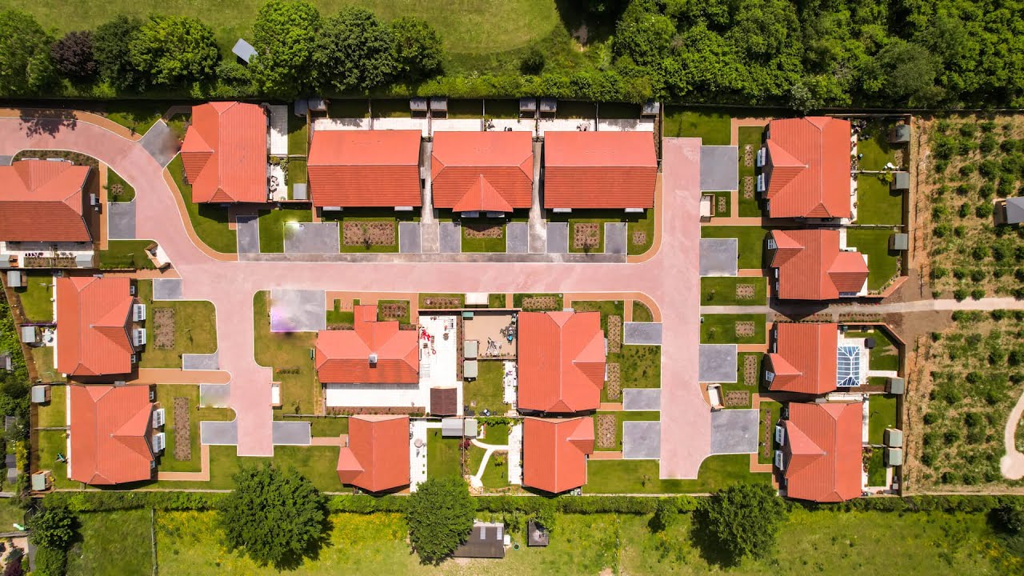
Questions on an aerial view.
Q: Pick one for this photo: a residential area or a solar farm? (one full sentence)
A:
The picture captures a residential area.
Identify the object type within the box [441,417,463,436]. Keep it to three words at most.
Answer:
shed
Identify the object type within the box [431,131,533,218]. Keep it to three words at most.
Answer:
house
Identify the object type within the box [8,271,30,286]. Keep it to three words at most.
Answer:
shed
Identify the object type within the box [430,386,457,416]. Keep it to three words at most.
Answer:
building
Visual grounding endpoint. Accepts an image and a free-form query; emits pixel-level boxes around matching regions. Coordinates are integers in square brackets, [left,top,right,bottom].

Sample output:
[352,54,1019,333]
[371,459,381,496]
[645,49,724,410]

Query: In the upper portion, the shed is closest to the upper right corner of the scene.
[889,126,912,144]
